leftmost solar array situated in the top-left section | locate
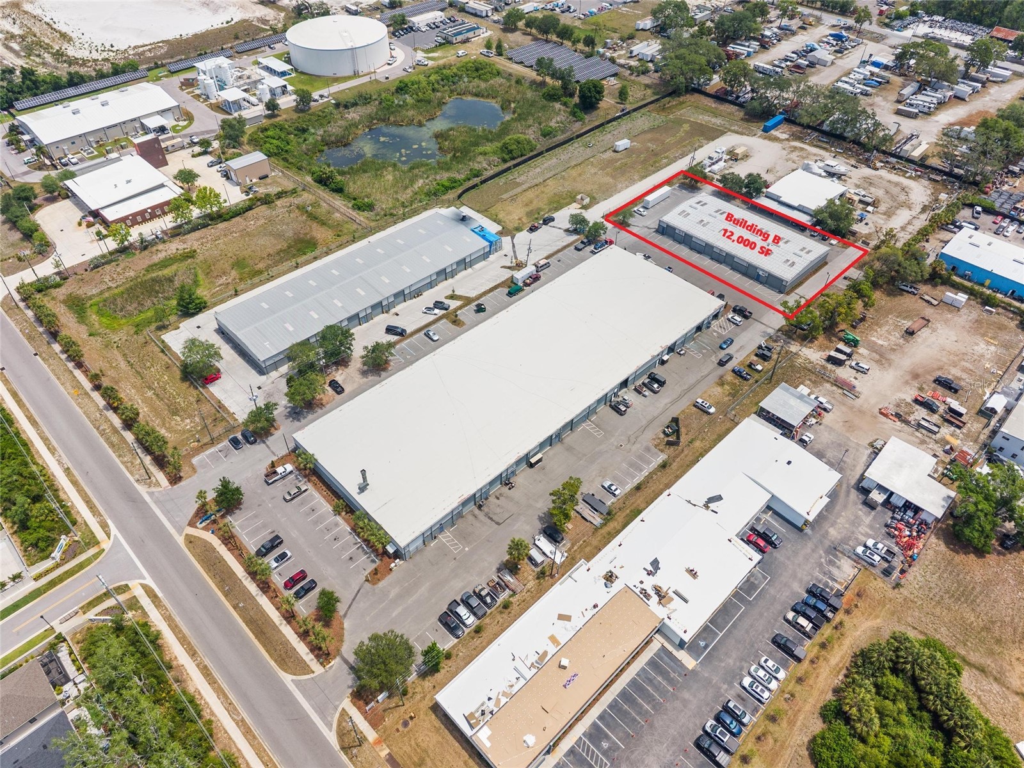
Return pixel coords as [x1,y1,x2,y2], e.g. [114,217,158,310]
[12,67,150,111]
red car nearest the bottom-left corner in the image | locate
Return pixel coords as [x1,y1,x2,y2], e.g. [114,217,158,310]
[282,569,308,591]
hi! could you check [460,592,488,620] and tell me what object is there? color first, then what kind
gray truck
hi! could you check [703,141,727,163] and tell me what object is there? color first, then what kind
white boat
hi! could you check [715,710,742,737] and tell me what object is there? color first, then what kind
blue car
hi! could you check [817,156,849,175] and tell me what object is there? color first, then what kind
white boat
